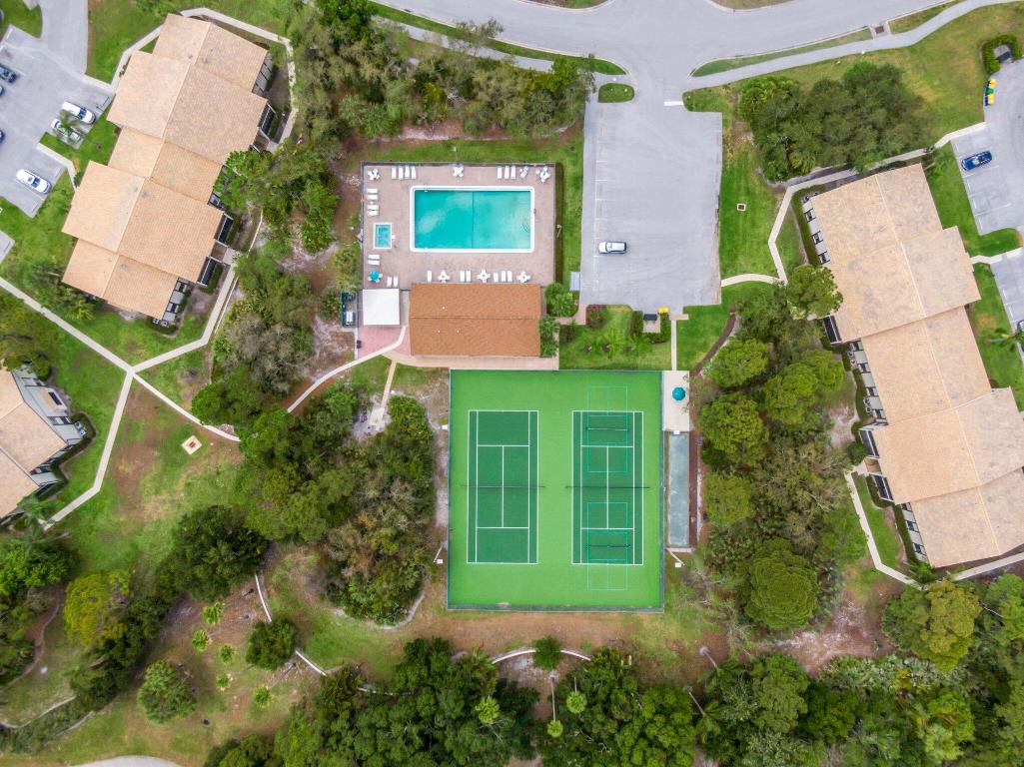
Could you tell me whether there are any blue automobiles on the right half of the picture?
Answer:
Yes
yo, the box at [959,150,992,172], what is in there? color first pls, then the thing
blue car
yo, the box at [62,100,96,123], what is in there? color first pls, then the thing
white car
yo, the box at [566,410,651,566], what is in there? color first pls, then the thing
green tennis court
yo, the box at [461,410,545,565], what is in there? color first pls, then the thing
green tennis court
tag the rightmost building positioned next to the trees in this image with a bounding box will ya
[805,163,1024,567]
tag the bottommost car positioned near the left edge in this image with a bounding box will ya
[18,170,51,193]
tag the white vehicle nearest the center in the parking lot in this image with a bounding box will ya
[599,239,627,254]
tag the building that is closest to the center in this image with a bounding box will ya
[407,283,541,356]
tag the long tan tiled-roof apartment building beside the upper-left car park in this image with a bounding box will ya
[62,12,278,319]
